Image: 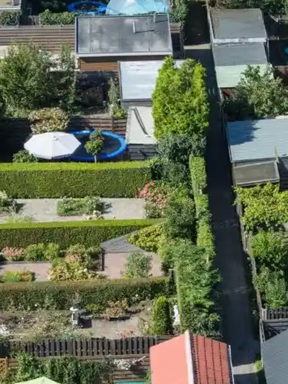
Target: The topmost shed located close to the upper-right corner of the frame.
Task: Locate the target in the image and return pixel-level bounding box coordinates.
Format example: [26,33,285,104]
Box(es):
[209,8,265,70]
